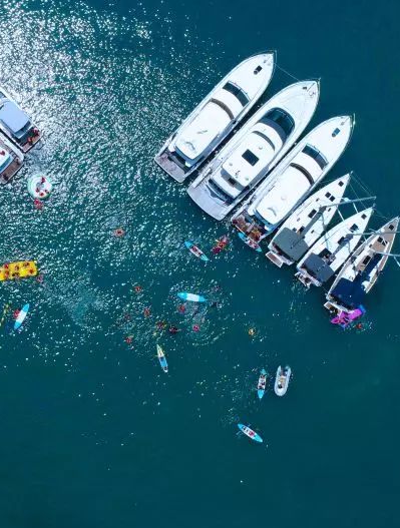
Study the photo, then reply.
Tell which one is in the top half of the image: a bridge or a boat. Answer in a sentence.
Visible in the top half of the image is a boat.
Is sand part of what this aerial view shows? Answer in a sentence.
No, the scene doesn't show any sand.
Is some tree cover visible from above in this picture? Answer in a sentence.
No, tree cover can't be seen anywhere here.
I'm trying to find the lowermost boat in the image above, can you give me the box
[237,425,262,442]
